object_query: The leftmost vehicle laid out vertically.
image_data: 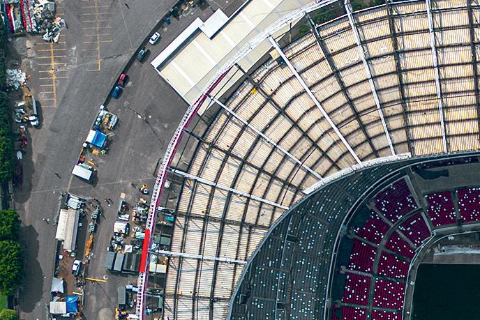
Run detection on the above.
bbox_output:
[27,98,40,125]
